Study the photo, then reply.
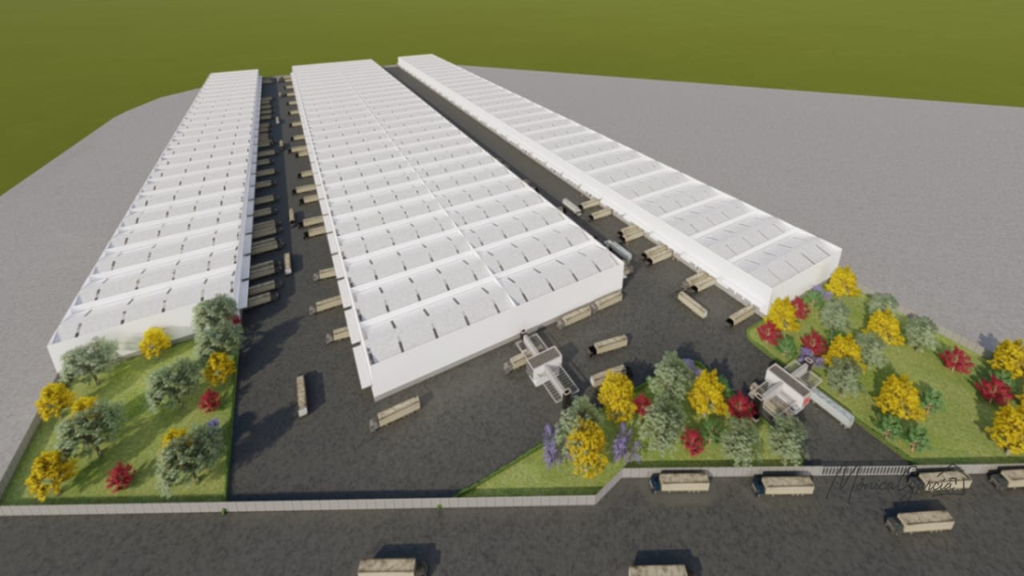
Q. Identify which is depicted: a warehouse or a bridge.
warehouse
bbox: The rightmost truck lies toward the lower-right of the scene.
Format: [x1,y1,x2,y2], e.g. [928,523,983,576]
[986,468,1024,491]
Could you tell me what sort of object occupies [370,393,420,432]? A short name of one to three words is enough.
truck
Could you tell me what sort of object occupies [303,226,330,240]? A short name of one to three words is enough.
vehicle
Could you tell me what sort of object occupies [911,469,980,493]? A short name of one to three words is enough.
truck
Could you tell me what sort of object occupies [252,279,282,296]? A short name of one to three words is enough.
vehicle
